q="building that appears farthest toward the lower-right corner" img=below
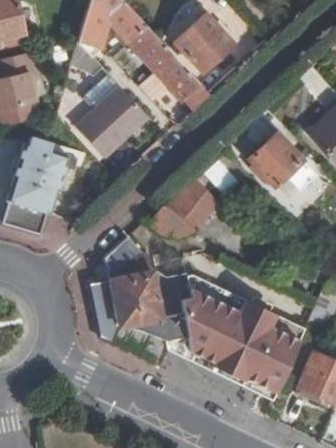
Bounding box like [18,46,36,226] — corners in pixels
[296,350,336,408]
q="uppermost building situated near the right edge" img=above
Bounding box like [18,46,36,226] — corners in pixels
[301,68,332,101]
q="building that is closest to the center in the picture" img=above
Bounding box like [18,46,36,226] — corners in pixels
[152,180,216,240]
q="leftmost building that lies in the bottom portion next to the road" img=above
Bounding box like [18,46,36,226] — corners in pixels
[90,236,184,344]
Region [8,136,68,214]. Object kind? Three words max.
house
